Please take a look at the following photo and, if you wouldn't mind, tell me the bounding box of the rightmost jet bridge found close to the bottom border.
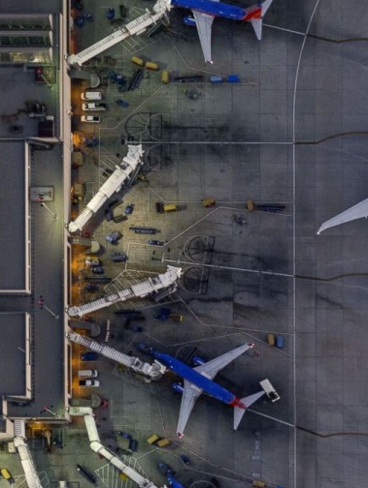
[68,406,177,488]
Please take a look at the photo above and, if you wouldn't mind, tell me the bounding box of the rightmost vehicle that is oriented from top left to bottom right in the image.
[260,377,281,403]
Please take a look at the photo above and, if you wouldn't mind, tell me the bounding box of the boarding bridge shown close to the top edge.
[68,0,181,75]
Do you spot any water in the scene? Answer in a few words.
No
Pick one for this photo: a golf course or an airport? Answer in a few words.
airport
